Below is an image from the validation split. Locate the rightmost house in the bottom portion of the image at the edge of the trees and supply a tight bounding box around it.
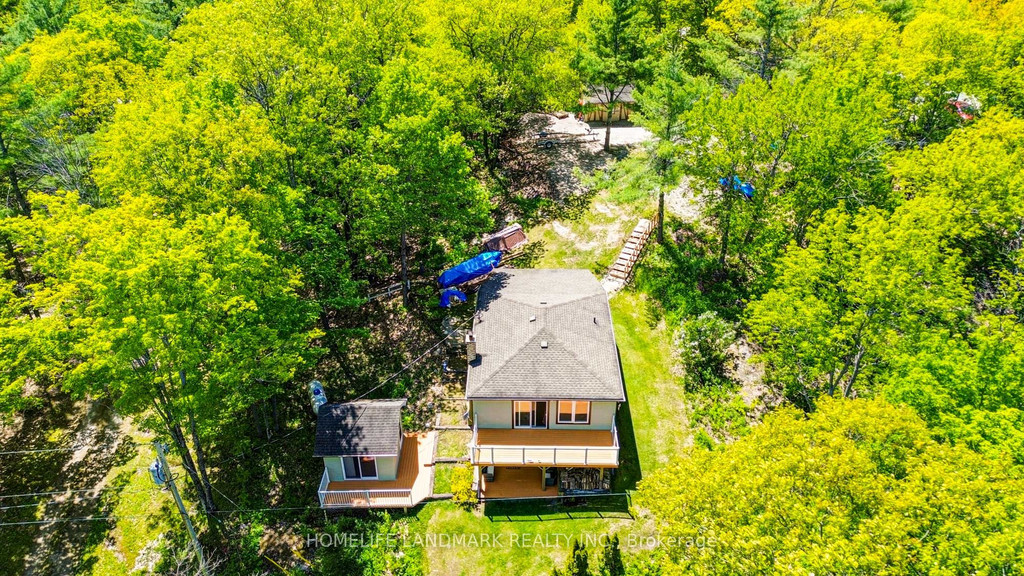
[462,269,628,507]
